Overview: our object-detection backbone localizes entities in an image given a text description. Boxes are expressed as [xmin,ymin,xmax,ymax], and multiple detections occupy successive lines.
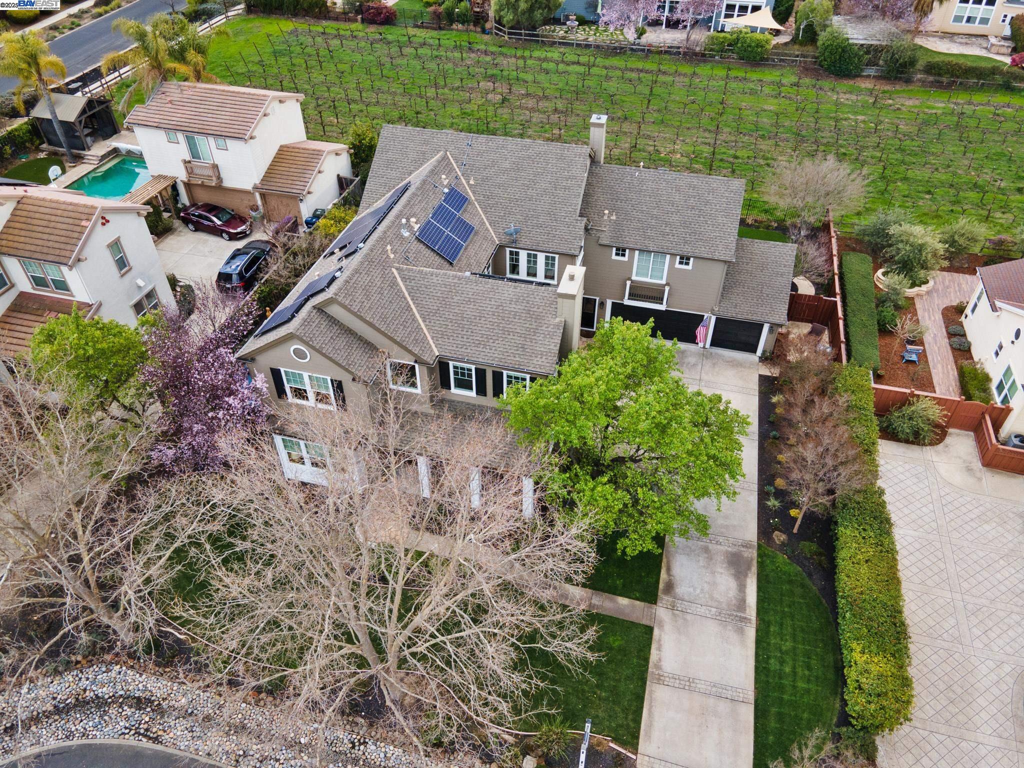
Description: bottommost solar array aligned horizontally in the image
[452,268,560,288]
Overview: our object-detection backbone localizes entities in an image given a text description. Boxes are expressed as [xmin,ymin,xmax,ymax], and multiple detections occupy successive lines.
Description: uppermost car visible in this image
[180,204,253,241]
